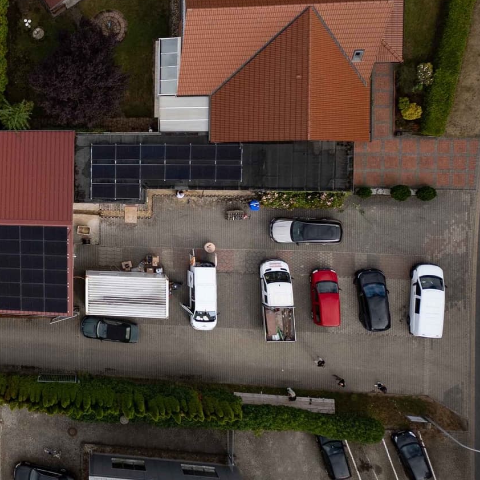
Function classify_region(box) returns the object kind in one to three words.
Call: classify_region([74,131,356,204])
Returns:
building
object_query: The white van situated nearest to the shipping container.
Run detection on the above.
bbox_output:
[180,249,219,328]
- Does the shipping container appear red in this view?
No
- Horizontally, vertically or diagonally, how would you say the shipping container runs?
horizontally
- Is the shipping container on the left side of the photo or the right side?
left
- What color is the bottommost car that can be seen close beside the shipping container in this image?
black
